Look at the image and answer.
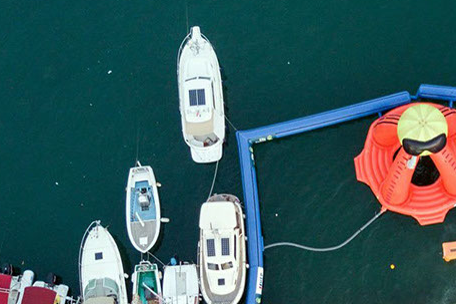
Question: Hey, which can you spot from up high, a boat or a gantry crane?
boat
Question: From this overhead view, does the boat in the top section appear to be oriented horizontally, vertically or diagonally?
vertically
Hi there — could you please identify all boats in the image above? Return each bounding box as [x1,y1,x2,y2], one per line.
[126,142,165,253]
[0,266,33,304]
[178,9,240,195]
[74,218,134,304]
[149,253,200,304]
[196,196,250,304]
[132,256,165,304]
[19,279,76,304]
